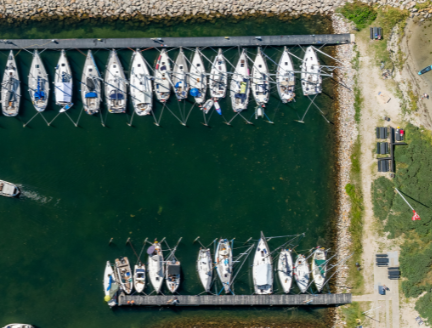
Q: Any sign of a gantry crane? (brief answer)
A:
No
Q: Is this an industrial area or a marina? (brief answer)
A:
marina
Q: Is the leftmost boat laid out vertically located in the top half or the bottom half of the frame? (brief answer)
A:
top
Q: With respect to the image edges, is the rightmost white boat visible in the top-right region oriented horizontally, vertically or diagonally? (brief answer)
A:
vertically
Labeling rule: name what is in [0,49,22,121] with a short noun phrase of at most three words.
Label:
boat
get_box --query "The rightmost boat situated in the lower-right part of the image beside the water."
[310,248,338,294]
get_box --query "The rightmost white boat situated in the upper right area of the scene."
[299,44,334,121]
